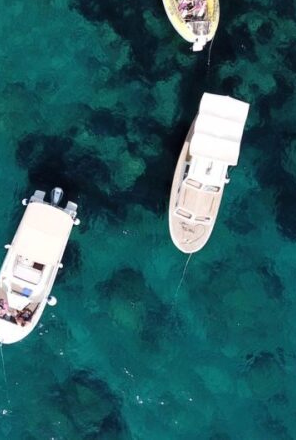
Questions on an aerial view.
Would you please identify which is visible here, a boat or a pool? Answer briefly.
boat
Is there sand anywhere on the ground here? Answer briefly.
No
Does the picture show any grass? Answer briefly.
No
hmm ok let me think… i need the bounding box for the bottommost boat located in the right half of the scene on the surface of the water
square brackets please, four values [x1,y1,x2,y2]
[171,93,248,253]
